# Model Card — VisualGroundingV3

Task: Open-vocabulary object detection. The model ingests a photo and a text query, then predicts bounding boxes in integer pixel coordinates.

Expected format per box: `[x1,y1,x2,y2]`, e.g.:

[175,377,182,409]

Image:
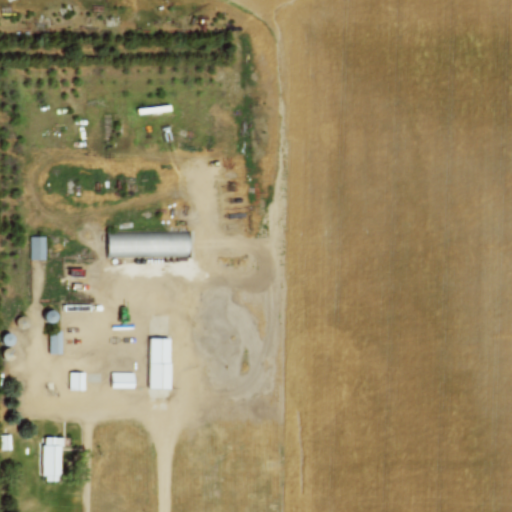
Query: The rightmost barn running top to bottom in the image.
[149,338,172,389]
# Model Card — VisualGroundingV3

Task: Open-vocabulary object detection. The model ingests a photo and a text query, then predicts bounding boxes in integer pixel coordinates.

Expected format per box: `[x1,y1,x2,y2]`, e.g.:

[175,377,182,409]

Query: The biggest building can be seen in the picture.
[108,234,192,258]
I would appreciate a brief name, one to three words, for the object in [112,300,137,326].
work vehicle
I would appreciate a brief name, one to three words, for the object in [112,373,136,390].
shed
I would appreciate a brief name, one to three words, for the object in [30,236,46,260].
shed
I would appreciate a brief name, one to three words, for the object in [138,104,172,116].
house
